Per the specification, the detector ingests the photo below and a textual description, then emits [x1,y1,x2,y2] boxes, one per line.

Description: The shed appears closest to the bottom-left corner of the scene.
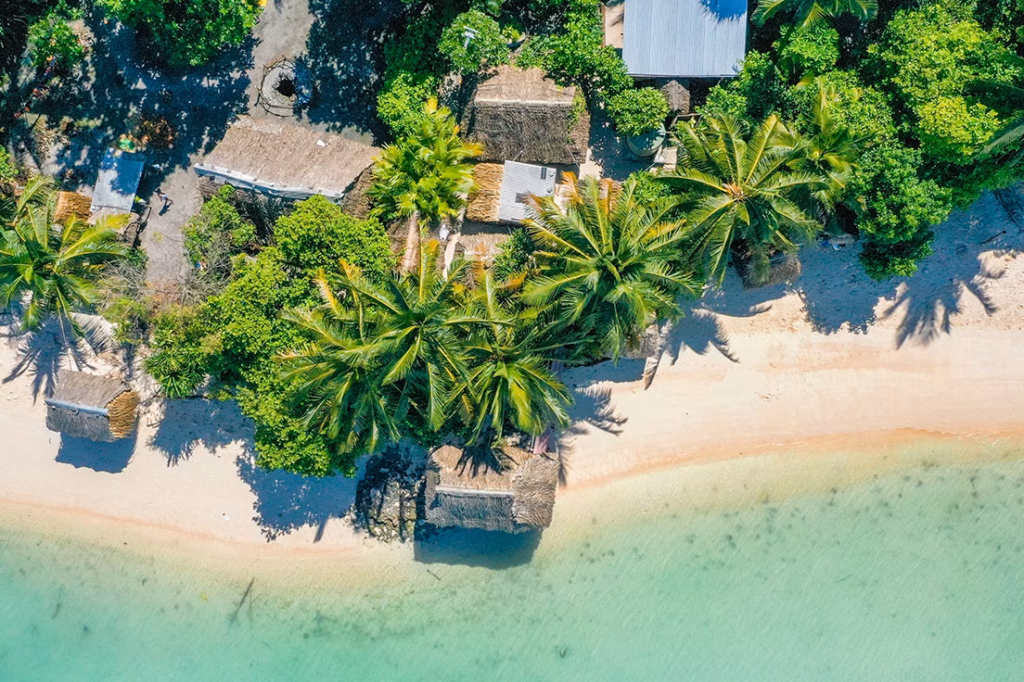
[42,369,145,445]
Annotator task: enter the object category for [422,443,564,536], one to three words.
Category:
shed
